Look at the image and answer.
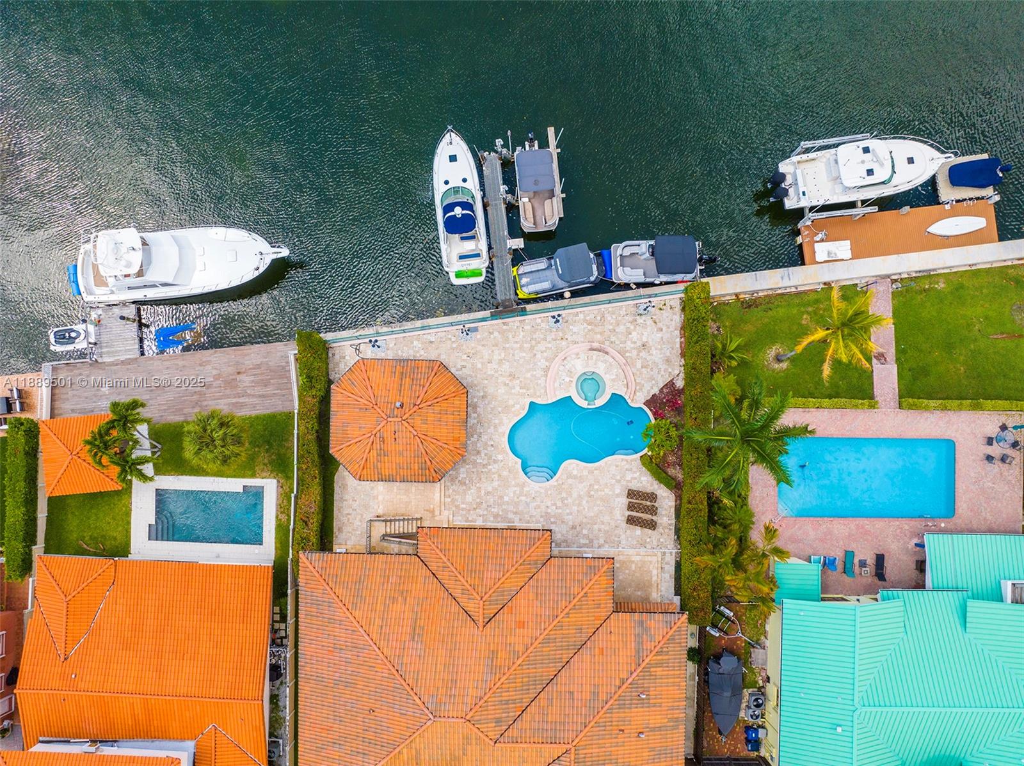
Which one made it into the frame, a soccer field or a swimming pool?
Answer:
swimming pool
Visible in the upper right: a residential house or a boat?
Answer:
boat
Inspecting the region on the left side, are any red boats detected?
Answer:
No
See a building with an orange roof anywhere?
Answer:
Yes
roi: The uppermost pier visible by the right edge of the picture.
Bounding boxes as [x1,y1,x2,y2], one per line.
[935,152,993,203]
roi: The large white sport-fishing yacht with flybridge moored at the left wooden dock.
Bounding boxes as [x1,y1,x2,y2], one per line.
[74,225,289,303]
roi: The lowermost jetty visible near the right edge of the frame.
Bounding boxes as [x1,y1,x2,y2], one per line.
[798,195,1000,265]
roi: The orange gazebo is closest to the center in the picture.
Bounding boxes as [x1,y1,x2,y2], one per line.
[328,357,469,484]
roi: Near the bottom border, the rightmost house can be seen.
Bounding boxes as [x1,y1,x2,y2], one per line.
[767,531,1024,766]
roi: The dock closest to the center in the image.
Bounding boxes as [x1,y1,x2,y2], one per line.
[479,153,518,309]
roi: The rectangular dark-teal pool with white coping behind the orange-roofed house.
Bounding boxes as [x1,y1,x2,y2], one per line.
[142,480,270,551]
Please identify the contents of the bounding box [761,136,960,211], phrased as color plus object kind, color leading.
white boat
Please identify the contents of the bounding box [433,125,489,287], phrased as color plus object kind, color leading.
white boat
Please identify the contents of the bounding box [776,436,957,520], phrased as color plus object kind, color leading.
blue swimming pool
